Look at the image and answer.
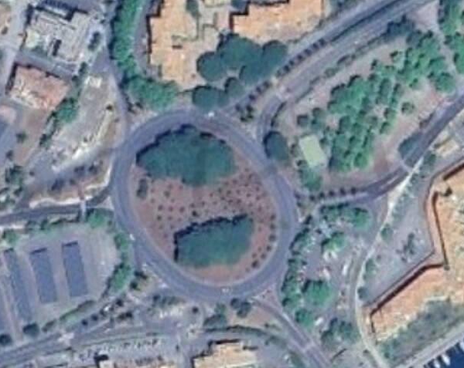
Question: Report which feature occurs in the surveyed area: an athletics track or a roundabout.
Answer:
roundabout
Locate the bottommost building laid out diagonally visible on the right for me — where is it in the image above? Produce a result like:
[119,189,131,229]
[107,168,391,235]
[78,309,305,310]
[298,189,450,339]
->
[364,257,447,341]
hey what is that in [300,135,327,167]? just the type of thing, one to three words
sports court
